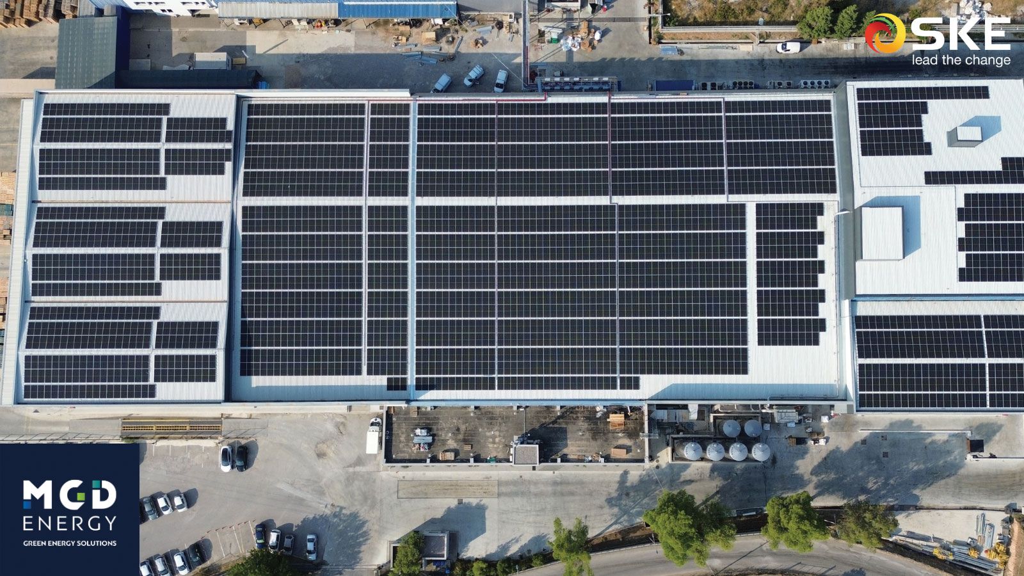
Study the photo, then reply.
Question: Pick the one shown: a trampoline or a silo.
silo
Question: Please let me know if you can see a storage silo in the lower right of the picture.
Yes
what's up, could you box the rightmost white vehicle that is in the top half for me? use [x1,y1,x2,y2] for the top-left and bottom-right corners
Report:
[775,40,802,54]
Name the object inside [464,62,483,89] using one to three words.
vehicle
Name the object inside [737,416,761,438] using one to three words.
silo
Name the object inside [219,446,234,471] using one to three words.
car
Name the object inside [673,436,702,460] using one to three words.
silo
